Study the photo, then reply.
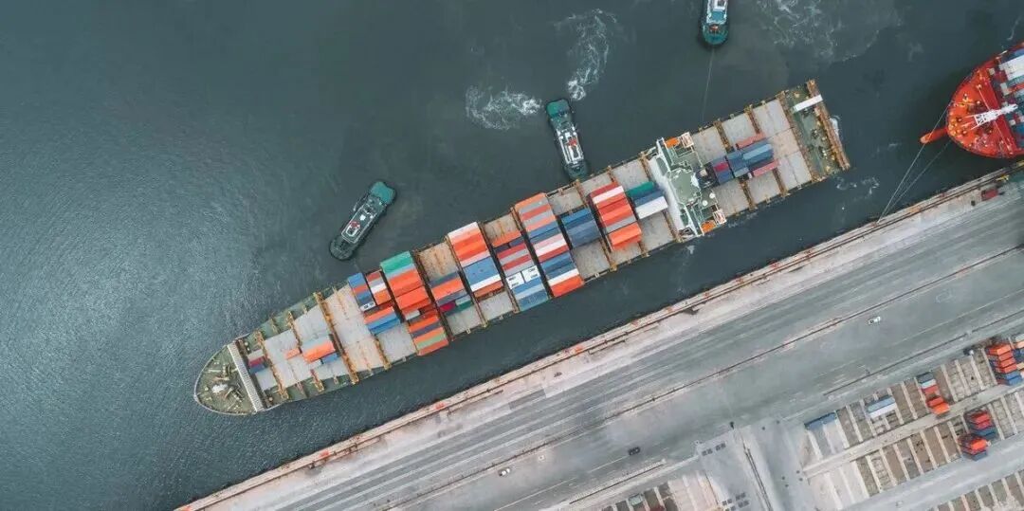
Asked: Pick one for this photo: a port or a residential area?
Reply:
port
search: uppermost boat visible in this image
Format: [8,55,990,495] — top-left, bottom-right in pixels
[700,0,732,44]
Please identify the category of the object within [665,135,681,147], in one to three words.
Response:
boat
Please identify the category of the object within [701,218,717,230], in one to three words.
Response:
boat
